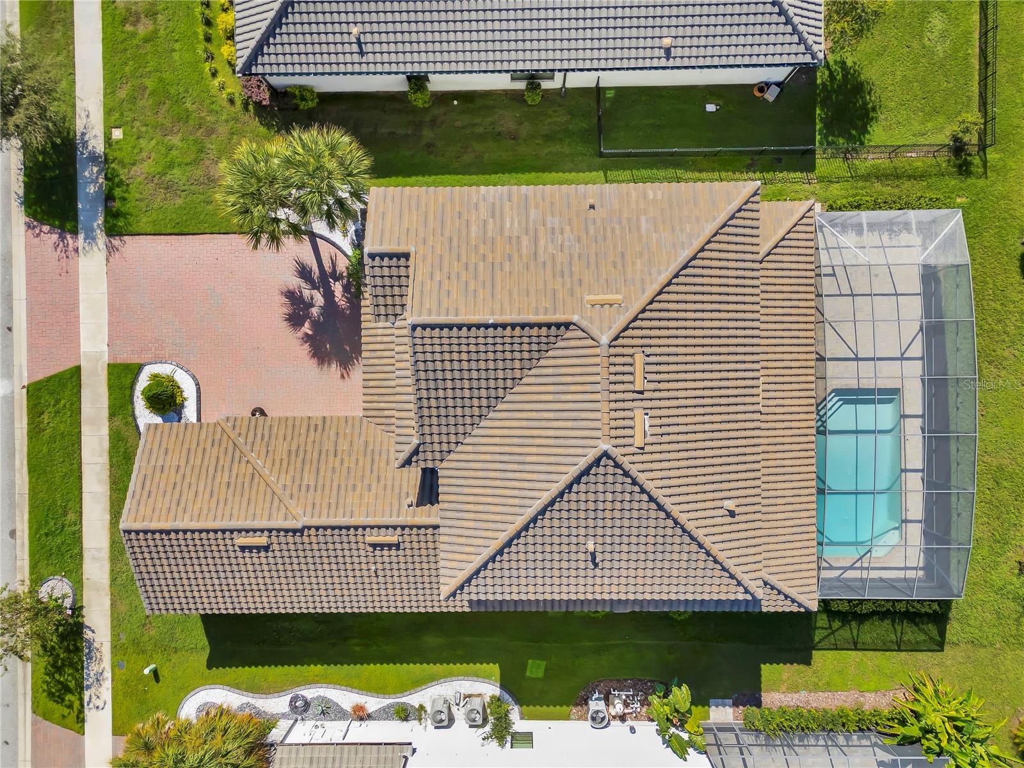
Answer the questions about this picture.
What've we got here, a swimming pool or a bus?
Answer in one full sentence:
Visible in the photo is a swimming pool.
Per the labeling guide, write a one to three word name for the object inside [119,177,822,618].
house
